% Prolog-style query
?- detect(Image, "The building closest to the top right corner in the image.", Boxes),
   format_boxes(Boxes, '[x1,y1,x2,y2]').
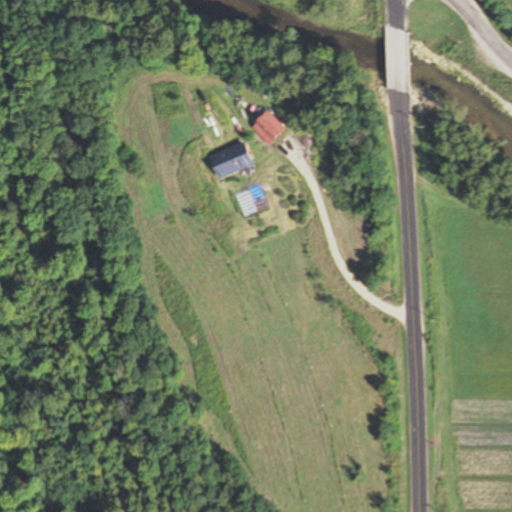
[252,110,285,143]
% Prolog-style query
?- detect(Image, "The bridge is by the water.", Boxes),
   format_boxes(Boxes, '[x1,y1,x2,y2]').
[385,24,412,94]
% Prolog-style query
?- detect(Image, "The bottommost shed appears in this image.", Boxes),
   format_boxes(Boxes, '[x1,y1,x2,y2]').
[236,184,269,218]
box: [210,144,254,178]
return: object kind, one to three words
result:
house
